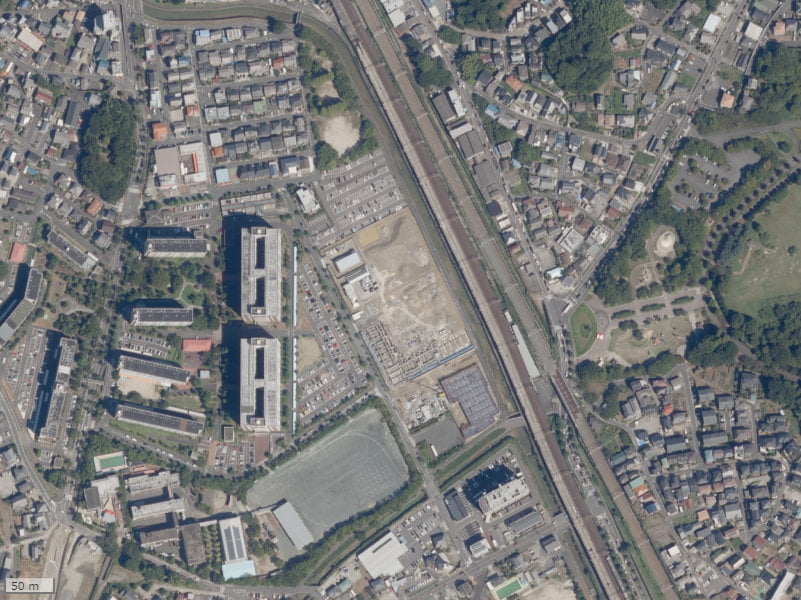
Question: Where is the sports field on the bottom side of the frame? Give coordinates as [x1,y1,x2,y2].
[247,409,409,553]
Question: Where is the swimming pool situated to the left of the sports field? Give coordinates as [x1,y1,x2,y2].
[95,451,128,472]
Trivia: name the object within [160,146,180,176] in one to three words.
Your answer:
building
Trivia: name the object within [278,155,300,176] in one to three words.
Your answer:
house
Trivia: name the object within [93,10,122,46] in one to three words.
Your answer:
building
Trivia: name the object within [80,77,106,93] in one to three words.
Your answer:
house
